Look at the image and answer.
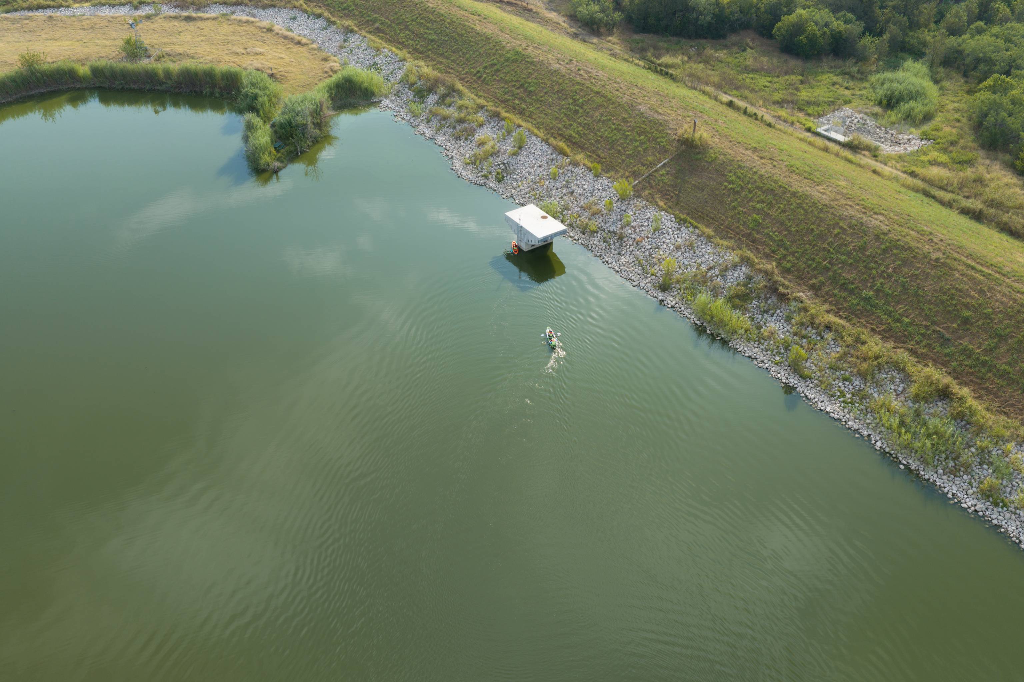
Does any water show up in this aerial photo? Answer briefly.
Yes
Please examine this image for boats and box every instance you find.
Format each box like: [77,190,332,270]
[511,238,519,253]
[546,324,556,348]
